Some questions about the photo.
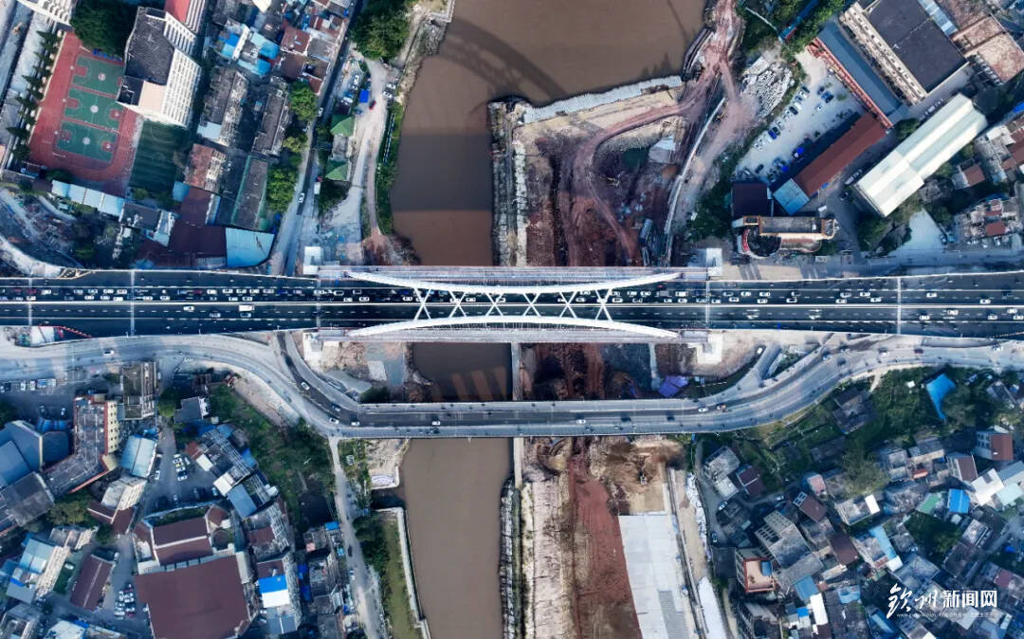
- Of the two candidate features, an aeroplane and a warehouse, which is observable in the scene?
warehouse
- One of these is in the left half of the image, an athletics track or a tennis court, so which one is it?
athletics track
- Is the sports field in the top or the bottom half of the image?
top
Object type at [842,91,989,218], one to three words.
warehouse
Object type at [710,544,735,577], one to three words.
shed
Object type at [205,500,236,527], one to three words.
house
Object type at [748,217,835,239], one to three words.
building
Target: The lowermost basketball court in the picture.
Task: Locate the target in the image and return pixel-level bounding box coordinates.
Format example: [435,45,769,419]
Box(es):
[55,122,120,162]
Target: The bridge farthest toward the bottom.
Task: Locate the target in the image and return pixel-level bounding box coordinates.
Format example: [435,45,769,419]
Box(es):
[358,402,676,437]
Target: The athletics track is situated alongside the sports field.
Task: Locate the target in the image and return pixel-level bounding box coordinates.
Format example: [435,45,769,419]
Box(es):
[27,31,142,195]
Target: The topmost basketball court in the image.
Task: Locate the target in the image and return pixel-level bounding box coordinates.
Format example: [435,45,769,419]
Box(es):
[72,55,128,94]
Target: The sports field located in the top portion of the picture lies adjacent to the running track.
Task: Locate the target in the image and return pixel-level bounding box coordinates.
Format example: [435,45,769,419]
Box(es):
[130,115,189,195]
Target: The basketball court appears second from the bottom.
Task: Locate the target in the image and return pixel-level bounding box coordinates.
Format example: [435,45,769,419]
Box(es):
[63,88,126,133]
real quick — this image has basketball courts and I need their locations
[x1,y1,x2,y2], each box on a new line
[63,88,126,133]
[55,122,120,162]
[72,55,128,94]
